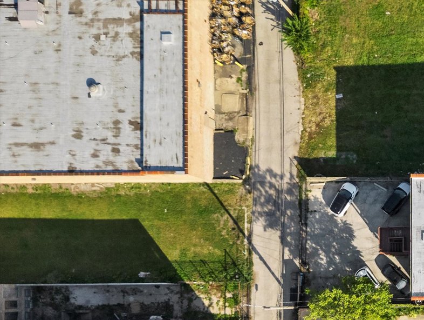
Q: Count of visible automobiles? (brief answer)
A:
4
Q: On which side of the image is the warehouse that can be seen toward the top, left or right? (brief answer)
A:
left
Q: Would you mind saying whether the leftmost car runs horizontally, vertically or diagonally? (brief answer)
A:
diagonally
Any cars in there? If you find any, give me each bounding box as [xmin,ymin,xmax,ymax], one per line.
[352,259,386,296]
[329,180,360,218]
[376,256,410,293]
[380,179,411,218]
